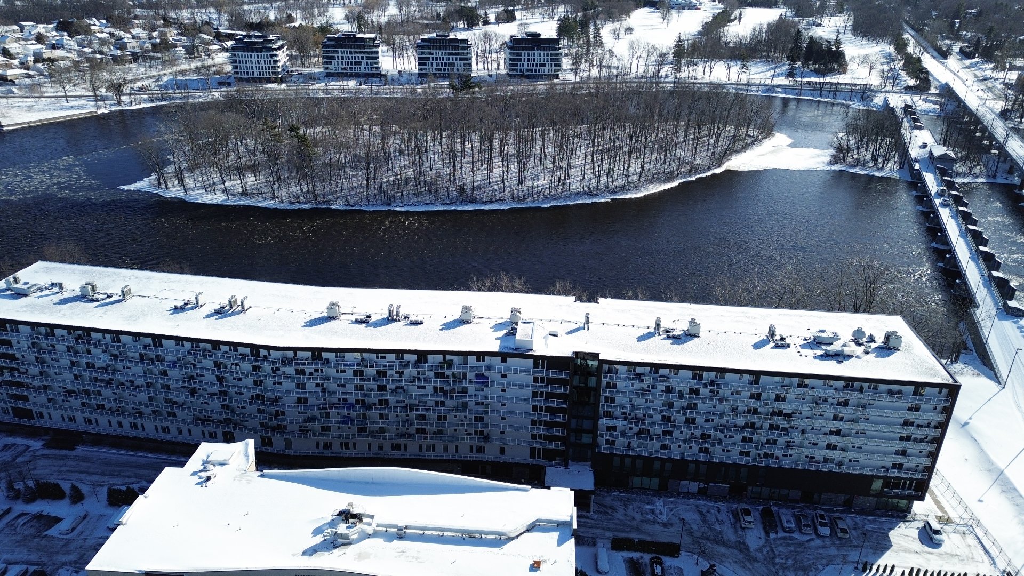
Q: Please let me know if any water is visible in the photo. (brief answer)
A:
Yes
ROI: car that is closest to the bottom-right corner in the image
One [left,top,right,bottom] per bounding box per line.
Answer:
[918,519,951,546]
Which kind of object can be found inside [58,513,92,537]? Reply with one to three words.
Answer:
car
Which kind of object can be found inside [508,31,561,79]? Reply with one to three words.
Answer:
building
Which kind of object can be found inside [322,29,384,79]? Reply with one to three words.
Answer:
building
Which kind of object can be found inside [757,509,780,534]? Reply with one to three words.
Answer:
car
